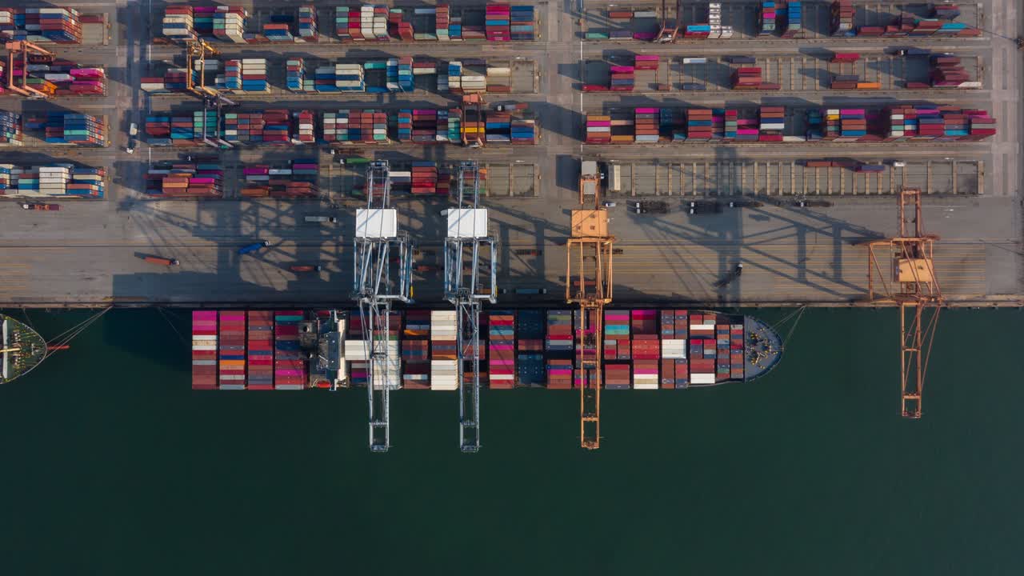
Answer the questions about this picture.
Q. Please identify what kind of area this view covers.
port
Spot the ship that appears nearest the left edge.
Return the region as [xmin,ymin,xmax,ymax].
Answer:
[0,315,69,384]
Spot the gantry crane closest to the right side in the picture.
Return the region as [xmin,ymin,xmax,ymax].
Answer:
[843,185,943,419]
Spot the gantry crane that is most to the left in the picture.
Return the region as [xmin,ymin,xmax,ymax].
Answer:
[4,38,51,101]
